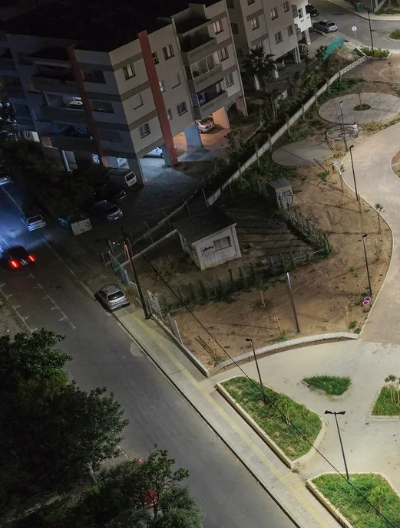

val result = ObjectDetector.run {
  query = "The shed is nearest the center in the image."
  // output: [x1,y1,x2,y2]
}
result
[169,207,240,271]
